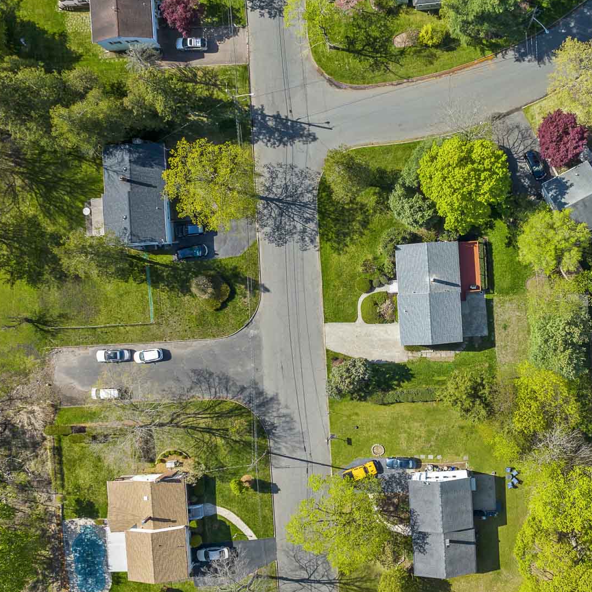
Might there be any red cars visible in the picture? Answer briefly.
No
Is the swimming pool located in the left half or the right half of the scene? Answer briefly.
left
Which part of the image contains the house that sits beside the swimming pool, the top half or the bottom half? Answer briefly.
bottom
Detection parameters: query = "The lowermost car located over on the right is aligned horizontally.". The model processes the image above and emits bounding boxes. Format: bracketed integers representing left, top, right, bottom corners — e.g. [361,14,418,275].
[385,455,419,472]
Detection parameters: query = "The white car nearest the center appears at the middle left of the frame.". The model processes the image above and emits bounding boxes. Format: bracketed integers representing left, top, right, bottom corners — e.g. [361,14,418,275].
[133,347,166,363]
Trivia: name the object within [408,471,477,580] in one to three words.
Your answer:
house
